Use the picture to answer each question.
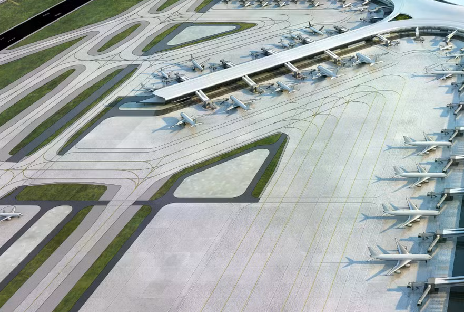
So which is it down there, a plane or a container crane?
plane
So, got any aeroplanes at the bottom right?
Yes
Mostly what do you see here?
paved ground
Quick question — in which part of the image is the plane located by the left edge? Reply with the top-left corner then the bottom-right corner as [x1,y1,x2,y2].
[0,204,24,220]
